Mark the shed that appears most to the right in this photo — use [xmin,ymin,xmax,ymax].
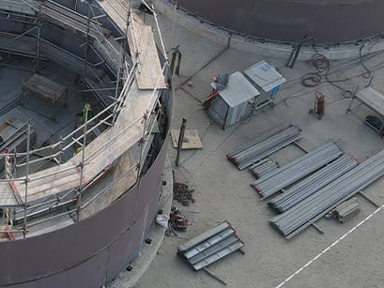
[243,61,287,111]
